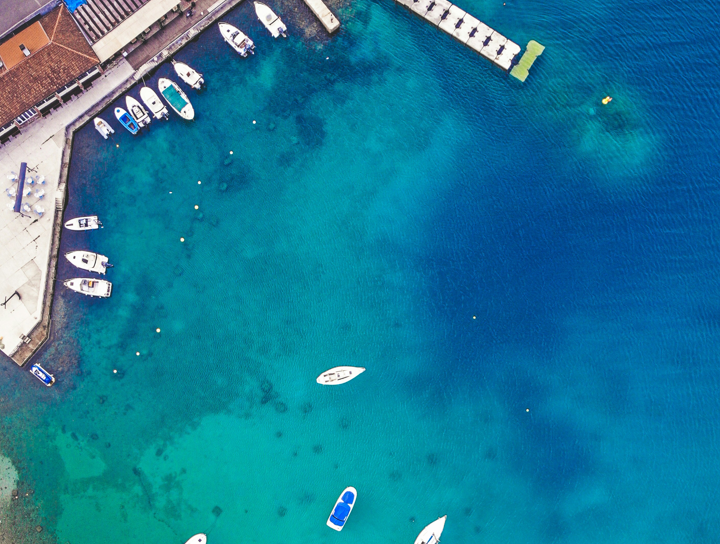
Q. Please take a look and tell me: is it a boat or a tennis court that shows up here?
boat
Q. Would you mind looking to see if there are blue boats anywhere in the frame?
Yes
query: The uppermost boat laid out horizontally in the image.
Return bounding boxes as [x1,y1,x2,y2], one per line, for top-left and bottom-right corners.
[63,215,106,232]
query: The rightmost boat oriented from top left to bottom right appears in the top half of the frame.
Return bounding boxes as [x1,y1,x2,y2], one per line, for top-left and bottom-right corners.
[253,0,288,41]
